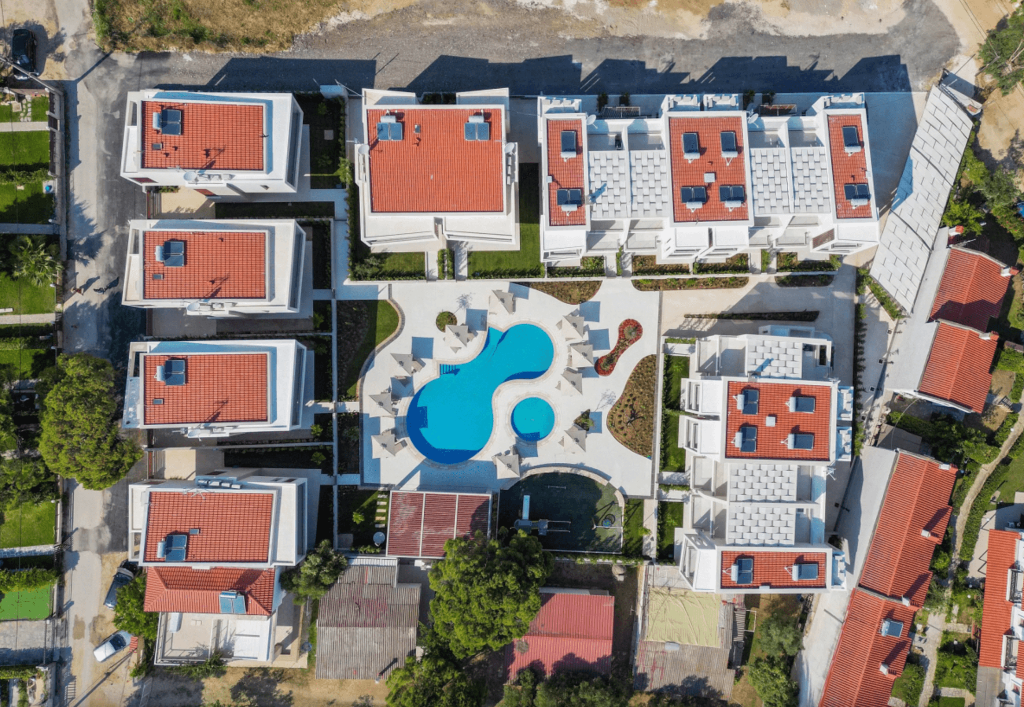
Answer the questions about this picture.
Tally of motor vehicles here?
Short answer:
3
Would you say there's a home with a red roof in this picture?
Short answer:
Yes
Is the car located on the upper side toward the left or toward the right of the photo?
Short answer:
left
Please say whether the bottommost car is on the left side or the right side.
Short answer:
left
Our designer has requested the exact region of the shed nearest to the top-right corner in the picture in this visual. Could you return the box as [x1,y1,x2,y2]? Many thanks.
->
[937,85,982,119]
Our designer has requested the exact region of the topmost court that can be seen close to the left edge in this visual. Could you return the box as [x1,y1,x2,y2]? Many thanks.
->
[0,584,50,620]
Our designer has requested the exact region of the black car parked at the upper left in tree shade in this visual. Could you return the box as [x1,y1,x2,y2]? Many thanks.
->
[12,28,40,82]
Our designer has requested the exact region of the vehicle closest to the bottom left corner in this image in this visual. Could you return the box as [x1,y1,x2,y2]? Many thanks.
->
[88,630,136,669]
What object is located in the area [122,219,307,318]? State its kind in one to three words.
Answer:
house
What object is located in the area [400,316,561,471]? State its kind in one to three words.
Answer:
swimming pool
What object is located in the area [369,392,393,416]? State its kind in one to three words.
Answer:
umbrella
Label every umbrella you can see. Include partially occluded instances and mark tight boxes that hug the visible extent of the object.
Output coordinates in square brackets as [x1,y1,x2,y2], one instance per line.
[488,285,516,314]
[495,453,521,479]
[570,344,595,369]
[560,372,584,395]
[370,433,397,459]
[369,392,393,416]
[562,314,587,339]
[563,428,587,453]
[389,352,414,377]
[444,321,470,346]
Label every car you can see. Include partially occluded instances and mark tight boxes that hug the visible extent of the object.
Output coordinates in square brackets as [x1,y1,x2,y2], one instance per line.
[101,557,143,613]
[12,28,40,82]
[88,630,136,669]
